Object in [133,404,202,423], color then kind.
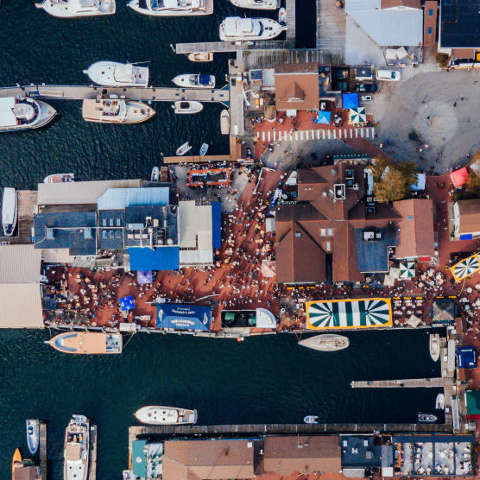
white boat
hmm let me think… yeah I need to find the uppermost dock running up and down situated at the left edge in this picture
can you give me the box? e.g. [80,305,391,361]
[18,190,34,233]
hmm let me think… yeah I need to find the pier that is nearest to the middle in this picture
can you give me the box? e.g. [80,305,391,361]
[164,136,244,165]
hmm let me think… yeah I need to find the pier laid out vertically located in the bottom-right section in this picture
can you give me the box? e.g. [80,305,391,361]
[440,331,456,434]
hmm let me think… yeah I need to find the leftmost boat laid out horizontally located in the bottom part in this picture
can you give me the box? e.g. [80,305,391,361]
[43,331,125,353]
